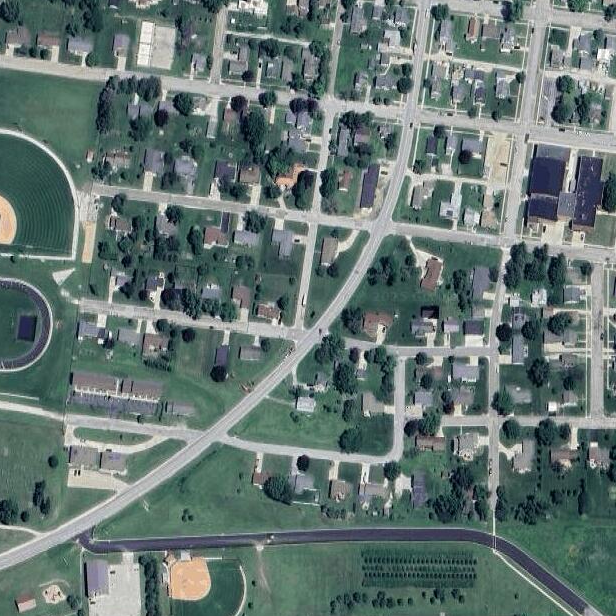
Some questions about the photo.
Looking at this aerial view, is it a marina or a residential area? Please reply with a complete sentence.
This image shows a residential area.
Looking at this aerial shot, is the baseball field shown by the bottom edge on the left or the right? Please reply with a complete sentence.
You can find the baseball field shown by the bottom edge on the left side of the picture.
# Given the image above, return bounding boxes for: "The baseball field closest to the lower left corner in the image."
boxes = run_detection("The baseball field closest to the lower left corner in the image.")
[170,557,247,616]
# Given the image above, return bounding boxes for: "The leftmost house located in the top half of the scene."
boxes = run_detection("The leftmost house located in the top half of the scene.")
[6,28,32,46]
